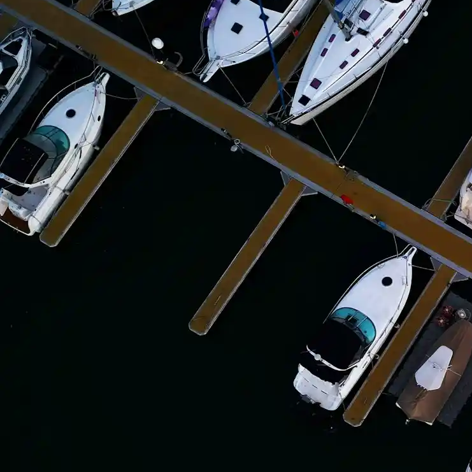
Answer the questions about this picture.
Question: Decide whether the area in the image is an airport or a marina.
marina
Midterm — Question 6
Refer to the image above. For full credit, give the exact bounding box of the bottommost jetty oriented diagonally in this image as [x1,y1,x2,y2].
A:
[342,256,471,428]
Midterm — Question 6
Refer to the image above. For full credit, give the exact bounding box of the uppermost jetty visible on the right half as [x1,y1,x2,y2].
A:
[246,0,333,119]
